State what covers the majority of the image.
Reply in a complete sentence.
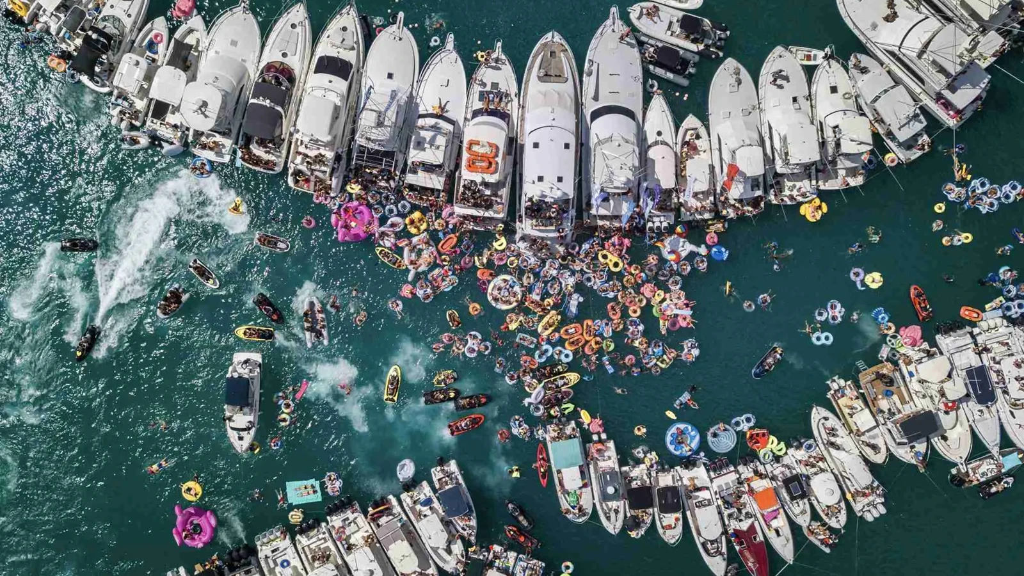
The largest share of the image is taken up by water.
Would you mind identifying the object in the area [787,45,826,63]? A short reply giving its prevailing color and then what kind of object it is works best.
white boat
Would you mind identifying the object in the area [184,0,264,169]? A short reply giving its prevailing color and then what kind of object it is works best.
white boat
